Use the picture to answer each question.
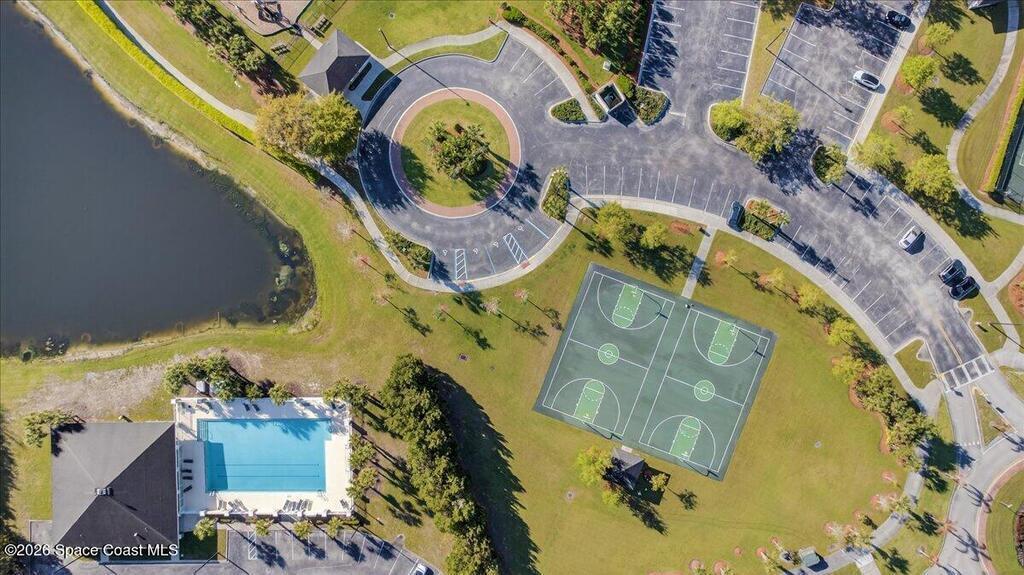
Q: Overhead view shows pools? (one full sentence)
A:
Yes, the frame does contain a pool.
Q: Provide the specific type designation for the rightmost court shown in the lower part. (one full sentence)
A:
It looks like the rightmost court shown in the lower part is a basketball court.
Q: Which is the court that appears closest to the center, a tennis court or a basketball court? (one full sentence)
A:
In the photo, the court that appears closest to the center shows up as a basketball court.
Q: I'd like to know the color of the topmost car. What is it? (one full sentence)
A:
From above, the topmost car appears black.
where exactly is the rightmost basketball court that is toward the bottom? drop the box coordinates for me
[629,299,777,481]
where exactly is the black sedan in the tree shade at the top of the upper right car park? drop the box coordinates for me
[884,10,912,30]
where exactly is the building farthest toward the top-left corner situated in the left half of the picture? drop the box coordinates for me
[299,30,371,102]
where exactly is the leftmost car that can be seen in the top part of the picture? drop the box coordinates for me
[728,201,745,229]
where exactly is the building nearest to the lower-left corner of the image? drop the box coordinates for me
[51,421,185,548]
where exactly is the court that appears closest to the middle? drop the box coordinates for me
[535,263,684,445]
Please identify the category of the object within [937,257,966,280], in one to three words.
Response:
car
